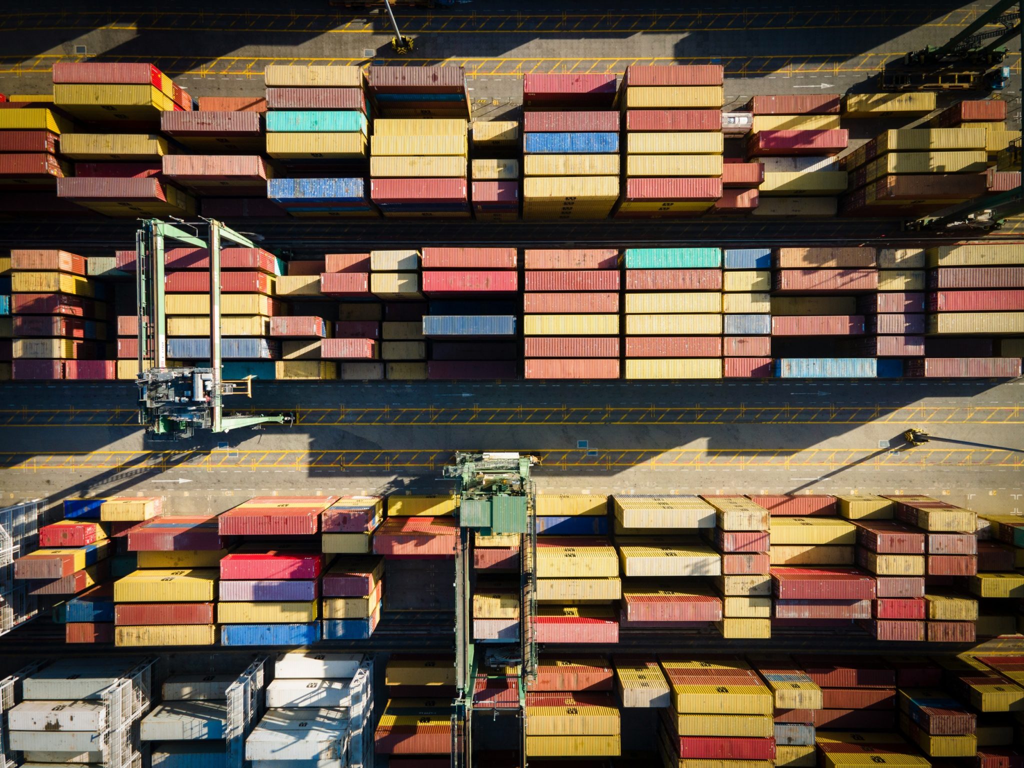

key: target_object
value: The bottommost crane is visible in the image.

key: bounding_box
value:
[449,639,538,768]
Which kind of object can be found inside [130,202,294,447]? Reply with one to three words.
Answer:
container crane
